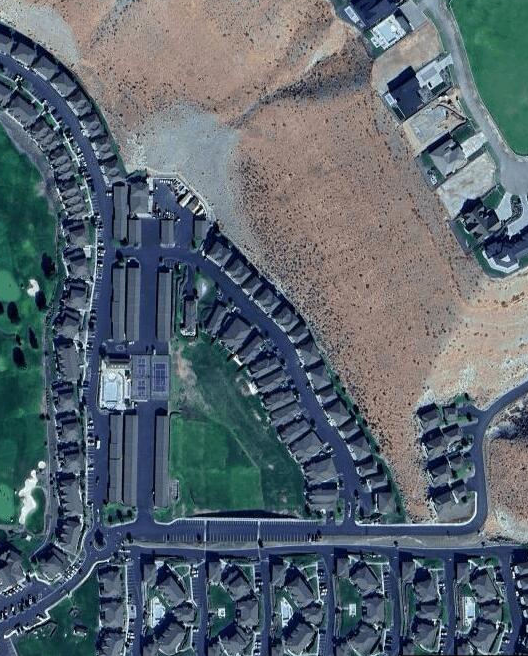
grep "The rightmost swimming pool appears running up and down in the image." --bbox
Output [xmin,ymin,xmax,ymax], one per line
[462,596,474,628]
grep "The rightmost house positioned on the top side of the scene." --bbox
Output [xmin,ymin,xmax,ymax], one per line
[485,222,528,270]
